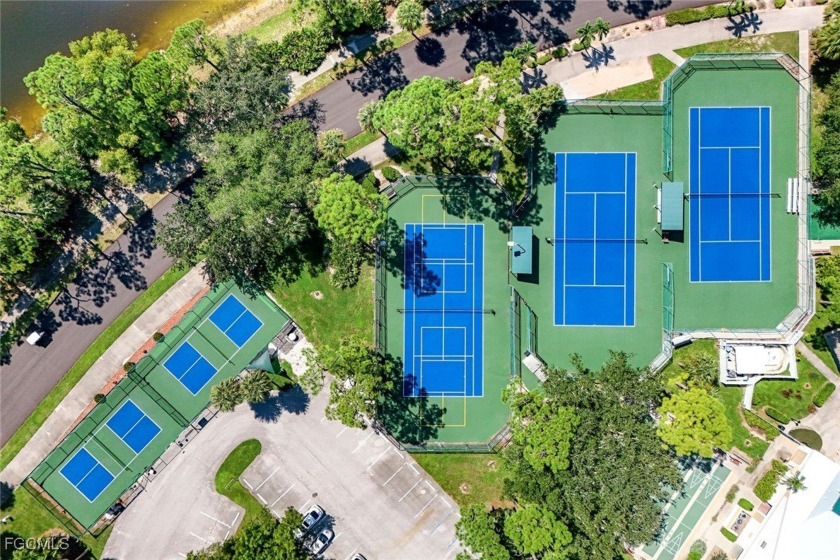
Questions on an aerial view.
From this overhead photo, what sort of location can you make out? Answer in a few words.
sports ground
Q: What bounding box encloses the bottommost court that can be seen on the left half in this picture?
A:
[31,371,189,530]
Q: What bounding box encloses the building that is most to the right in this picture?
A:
[808,321,840,376]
